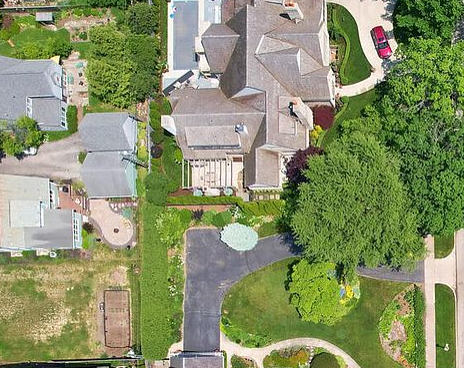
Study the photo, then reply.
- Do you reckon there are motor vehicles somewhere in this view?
Yes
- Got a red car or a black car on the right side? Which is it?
red car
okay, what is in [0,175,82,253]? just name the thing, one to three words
house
